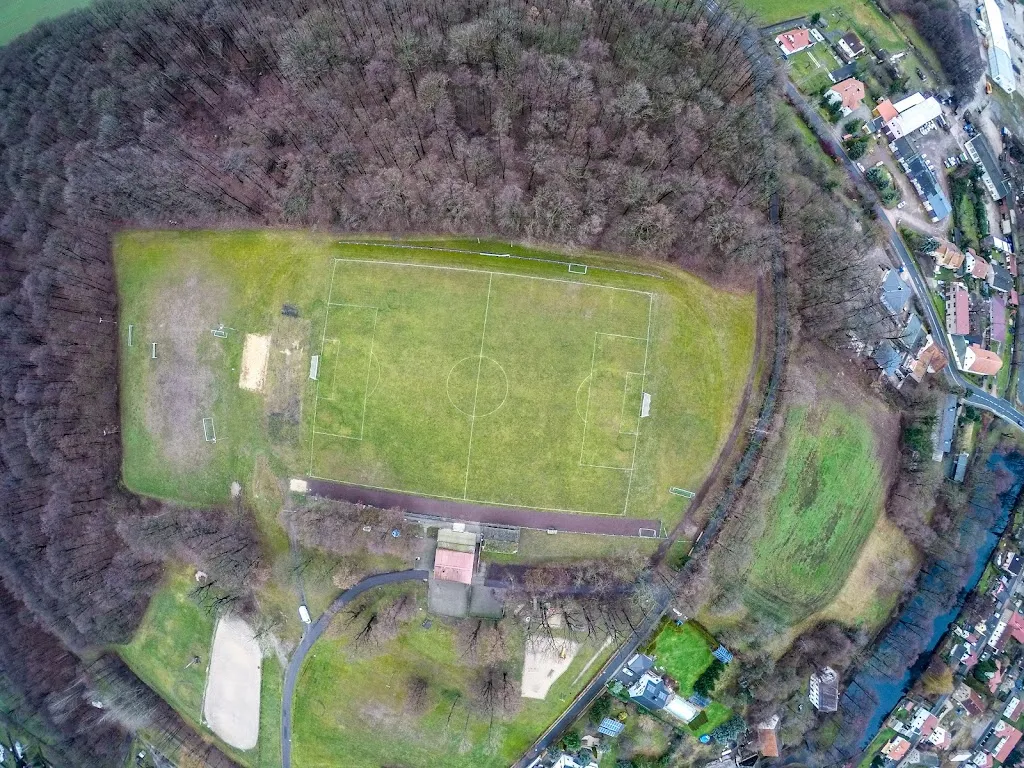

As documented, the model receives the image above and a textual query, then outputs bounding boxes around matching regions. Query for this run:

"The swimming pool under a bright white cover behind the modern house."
[669,694,697,721]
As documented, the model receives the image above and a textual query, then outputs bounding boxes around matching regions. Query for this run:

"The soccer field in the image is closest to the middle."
[305,255,658,518]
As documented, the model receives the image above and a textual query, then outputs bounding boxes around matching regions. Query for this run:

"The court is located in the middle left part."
[239,334,271,391]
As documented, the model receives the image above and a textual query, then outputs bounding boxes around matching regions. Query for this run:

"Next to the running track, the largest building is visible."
[434,529,477,586]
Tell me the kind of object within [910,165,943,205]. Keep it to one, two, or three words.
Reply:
building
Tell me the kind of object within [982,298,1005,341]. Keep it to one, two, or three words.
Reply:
house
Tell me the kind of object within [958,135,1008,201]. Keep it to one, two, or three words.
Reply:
shed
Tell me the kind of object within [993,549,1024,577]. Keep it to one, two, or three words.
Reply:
house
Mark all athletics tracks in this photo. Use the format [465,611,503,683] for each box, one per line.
[306,480,661,538]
